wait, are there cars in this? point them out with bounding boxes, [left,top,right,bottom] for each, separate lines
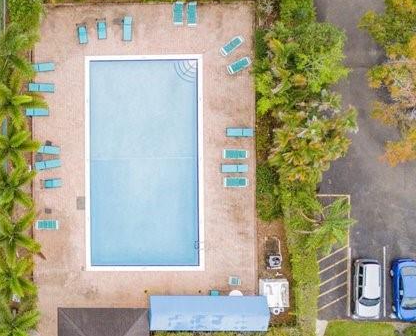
[389,259,416,323]
[352,259,386,321]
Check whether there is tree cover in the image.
Yes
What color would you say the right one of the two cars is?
blue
